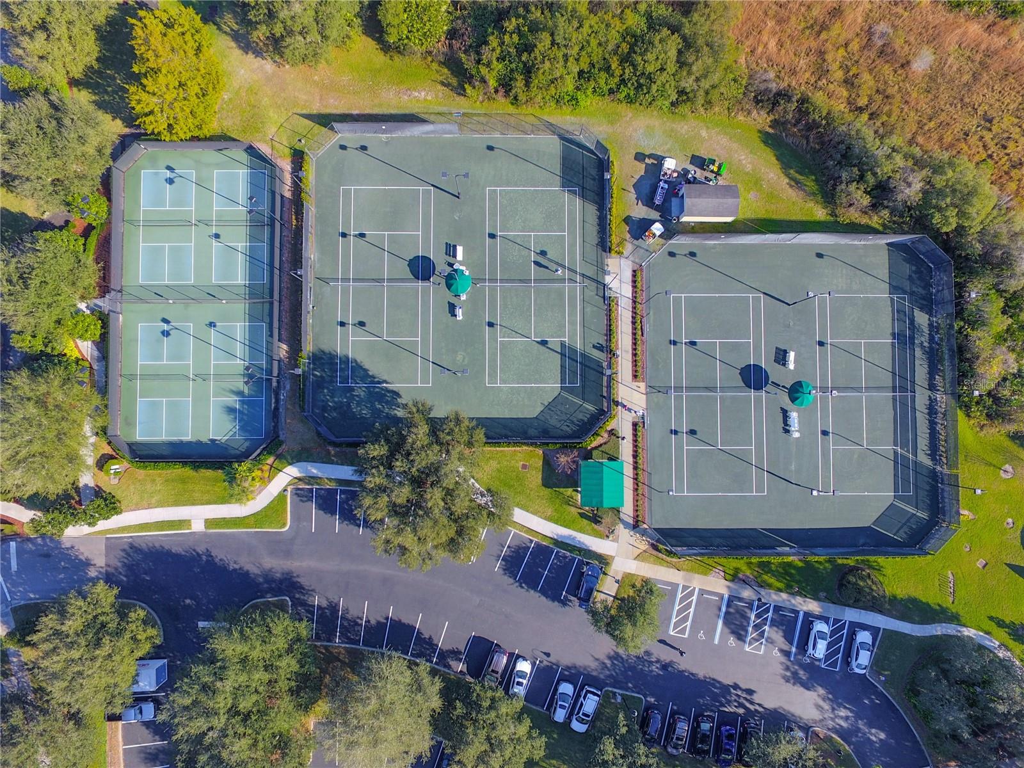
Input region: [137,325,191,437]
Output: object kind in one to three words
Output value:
sports court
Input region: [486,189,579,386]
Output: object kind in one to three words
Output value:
tennis court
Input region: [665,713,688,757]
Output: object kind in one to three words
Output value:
car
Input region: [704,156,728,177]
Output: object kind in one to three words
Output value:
vehicle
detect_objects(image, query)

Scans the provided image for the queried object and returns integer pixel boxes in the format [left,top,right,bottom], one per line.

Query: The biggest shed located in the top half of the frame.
[670,182,742,221]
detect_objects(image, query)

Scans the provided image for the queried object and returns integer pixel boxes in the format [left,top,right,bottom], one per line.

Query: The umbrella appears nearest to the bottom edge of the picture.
[786,380,813,407]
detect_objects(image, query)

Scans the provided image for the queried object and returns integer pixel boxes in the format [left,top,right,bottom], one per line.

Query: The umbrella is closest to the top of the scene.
[445,269,472,295]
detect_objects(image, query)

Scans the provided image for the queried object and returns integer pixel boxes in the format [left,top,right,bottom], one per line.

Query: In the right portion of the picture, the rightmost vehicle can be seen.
[847,630,872,674]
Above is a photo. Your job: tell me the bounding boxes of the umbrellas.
[445,269,472,295]
[786,380,813,407]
